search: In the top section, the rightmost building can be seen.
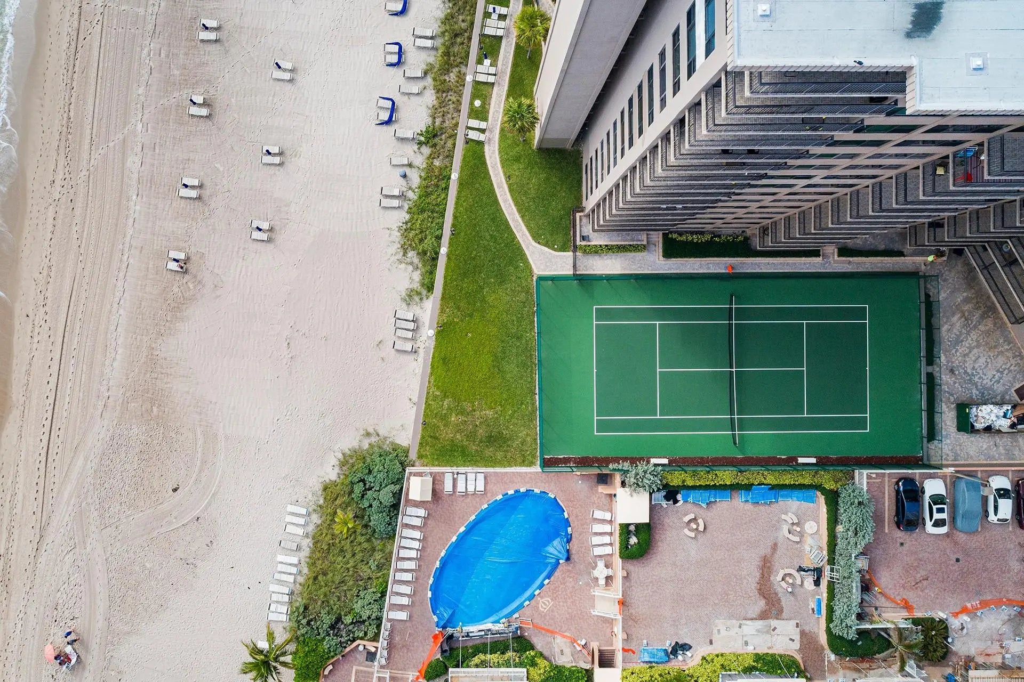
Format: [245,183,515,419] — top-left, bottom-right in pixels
[536,0,1024,326]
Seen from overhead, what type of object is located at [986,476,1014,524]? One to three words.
car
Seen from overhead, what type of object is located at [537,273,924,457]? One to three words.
tennis court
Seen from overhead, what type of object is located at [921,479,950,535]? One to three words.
car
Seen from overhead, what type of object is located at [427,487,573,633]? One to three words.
swimming pool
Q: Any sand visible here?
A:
Yes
